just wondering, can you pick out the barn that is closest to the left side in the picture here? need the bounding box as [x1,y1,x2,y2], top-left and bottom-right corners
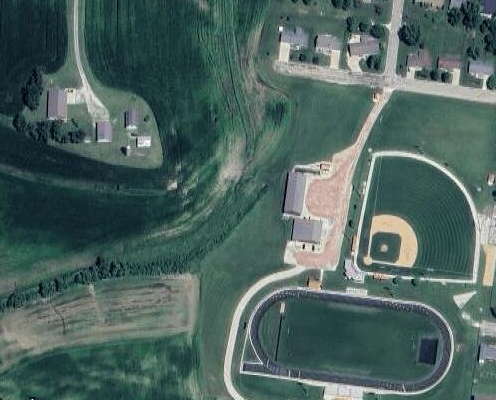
[48,86,67,118]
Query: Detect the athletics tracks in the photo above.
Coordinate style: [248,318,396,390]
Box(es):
[242,285,454,394]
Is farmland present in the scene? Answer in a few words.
Yes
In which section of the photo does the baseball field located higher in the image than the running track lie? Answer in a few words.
right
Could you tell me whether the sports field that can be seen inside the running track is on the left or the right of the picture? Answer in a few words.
right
